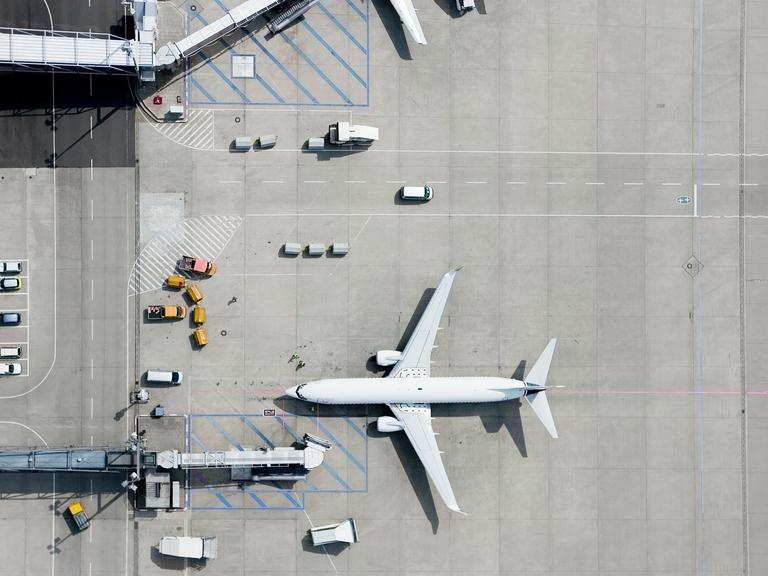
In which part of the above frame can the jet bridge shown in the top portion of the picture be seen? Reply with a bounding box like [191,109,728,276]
[155,0,316,75]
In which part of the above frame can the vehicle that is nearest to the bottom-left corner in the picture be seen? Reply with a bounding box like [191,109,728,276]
[66,502,92,534]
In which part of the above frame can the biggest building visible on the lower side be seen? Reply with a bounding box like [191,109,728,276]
[146,473,171,508]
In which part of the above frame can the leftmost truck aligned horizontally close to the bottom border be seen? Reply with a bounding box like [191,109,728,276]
[160,536,219,564]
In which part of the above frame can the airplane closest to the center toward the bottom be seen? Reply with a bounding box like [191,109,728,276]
[286,265,566,514]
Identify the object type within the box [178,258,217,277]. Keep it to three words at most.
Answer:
vehicle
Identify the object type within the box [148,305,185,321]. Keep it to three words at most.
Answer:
vehicle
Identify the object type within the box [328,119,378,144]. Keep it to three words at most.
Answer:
truck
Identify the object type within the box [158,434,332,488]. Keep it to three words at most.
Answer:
jet bridge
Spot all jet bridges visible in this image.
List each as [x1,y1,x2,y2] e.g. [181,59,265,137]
[158,434,332,488]
[155,0,316,75]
